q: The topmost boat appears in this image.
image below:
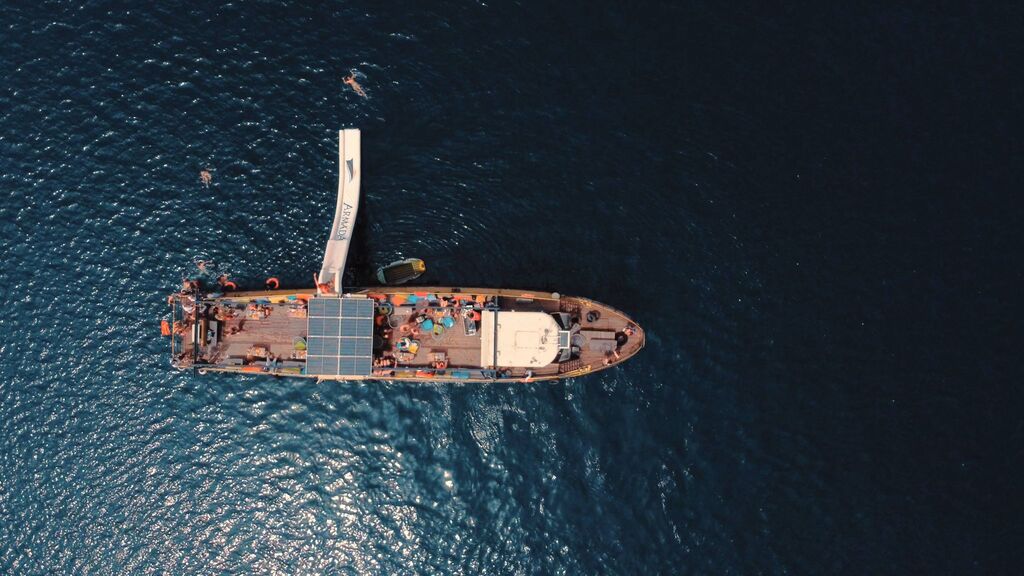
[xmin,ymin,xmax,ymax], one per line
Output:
[374,258,425,287]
